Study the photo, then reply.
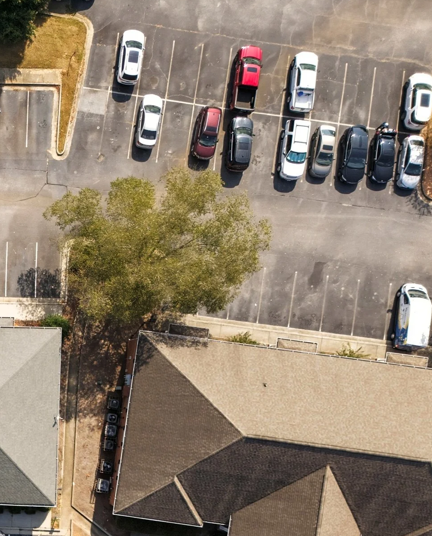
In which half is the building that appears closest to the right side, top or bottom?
bottom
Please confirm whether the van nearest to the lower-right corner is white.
Yes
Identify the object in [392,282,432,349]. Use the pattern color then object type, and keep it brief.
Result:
white van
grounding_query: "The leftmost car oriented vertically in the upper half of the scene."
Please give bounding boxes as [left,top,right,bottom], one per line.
[116,28,147,85]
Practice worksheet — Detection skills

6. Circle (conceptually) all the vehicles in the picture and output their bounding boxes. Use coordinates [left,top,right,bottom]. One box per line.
[231,44,266,115]
[288,50,323,114]
[307,124,339,180]
[278,117,313,183]
[369,128,402,185]
[395,133,429,191]
[337,123,373,186]
[392,282,432,349]
[191,104,224,161]
[223,116,257,173]
[135,94,164,150]
[402,72,432,130]
[116,28,147,85]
